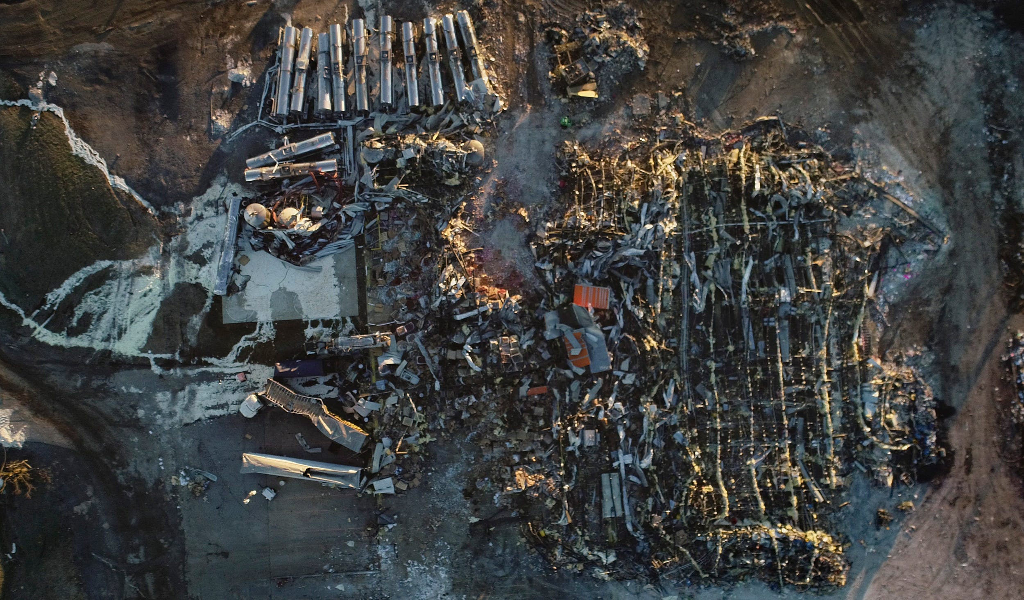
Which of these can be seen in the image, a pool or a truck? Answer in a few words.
truck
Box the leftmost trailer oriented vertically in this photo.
[213,197,244,296]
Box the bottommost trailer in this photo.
[242,448,366,489]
